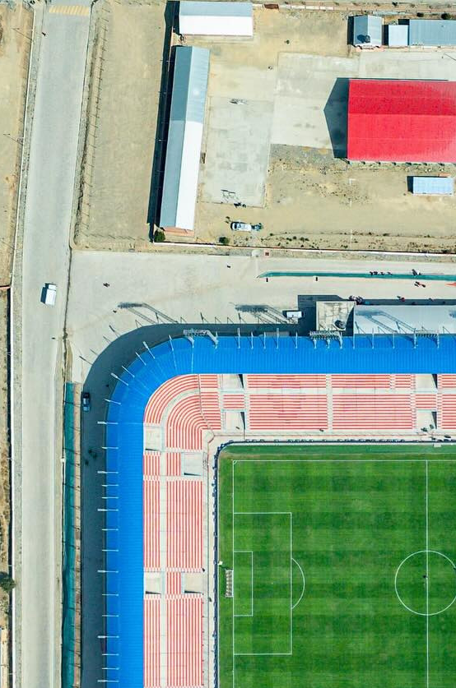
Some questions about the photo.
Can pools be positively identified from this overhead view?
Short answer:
No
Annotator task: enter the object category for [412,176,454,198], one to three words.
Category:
shed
